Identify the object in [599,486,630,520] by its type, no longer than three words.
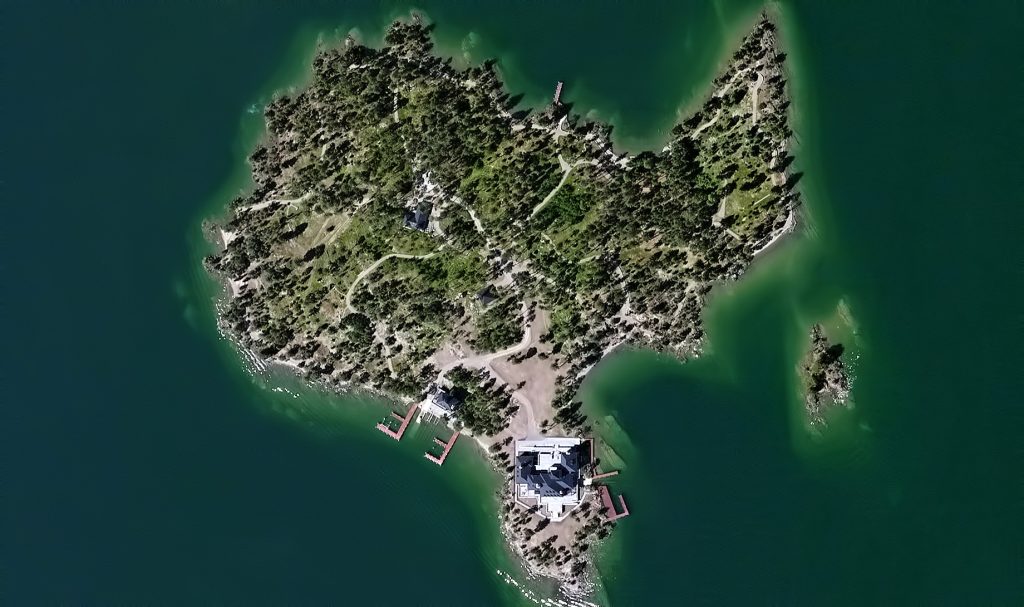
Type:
pier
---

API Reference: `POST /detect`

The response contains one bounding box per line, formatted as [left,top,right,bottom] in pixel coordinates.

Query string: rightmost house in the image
[515,438,594,522]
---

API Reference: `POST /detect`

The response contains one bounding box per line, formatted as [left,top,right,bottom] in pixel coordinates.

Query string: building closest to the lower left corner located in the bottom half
[419,384,458,423]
